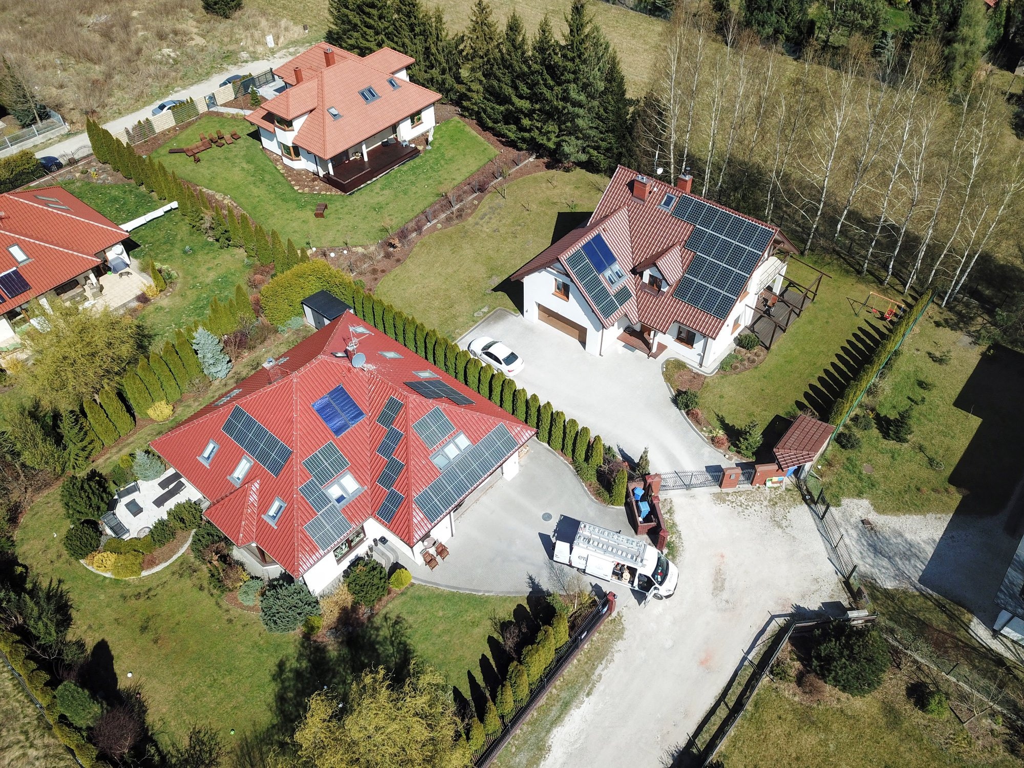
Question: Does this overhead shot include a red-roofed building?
Yes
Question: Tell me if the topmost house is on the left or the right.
left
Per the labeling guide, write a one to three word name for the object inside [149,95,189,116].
car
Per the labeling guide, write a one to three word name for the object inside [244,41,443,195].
house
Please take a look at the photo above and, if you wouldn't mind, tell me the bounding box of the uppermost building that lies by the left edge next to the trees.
[0,184,134,324]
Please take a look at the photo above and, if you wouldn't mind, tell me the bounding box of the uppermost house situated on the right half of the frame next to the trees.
[508,152,801,371]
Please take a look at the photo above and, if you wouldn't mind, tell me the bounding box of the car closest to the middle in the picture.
[461,331,523,374]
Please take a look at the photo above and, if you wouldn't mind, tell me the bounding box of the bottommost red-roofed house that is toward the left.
[147,309,539,596]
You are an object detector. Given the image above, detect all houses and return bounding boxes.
[147,309,539,596]
[508,152,801,371]
[987,475,1024,652]
[244,41,443,195]
[0,184,134,324]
